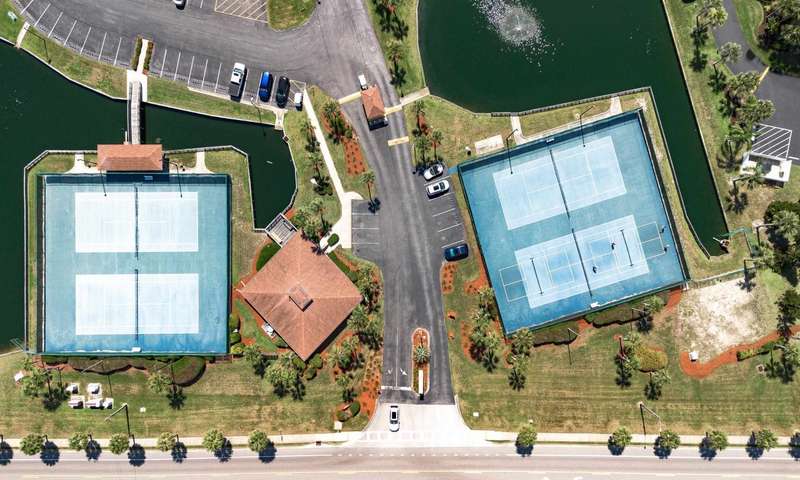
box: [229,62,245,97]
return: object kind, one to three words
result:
vehicle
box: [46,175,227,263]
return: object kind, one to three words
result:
tennis court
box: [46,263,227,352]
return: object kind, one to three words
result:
tennis court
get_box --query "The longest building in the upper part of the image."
[97,144,167,170]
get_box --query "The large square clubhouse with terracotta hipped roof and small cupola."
[238,232,362,360]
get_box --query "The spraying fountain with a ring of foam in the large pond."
[467,0,564,71]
